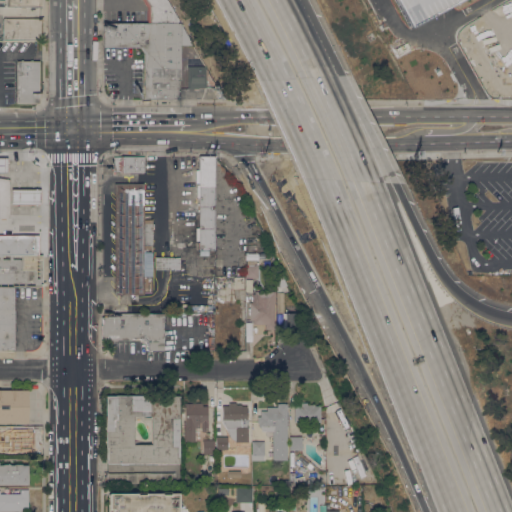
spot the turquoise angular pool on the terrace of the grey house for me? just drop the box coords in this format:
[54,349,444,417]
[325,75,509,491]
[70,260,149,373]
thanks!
[305,444,322,465]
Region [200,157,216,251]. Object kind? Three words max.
building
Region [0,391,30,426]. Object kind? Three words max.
building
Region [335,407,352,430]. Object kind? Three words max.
vehicle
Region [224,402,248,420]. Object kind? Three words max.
house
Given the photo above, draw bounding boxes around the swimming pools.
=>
[136,422,148,441]
[305,444,322,465]
[310,496,319,512]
